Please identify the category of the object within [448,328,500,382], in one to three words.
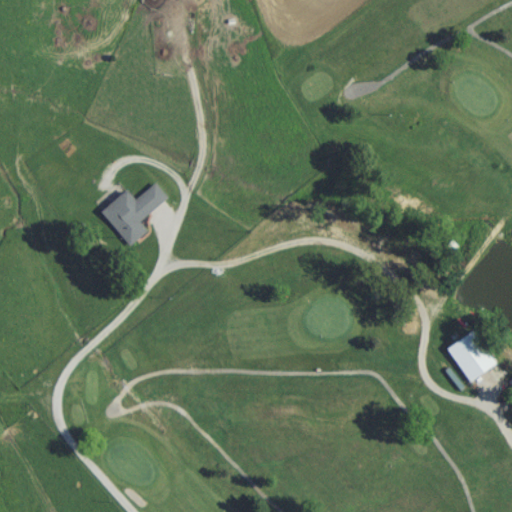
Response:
barn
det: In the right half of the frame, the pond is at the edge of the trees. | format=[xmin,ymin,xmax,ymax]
[460,242,512,326]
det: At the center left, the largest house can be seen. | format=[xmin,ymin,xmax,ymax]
[102,182,168,246]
